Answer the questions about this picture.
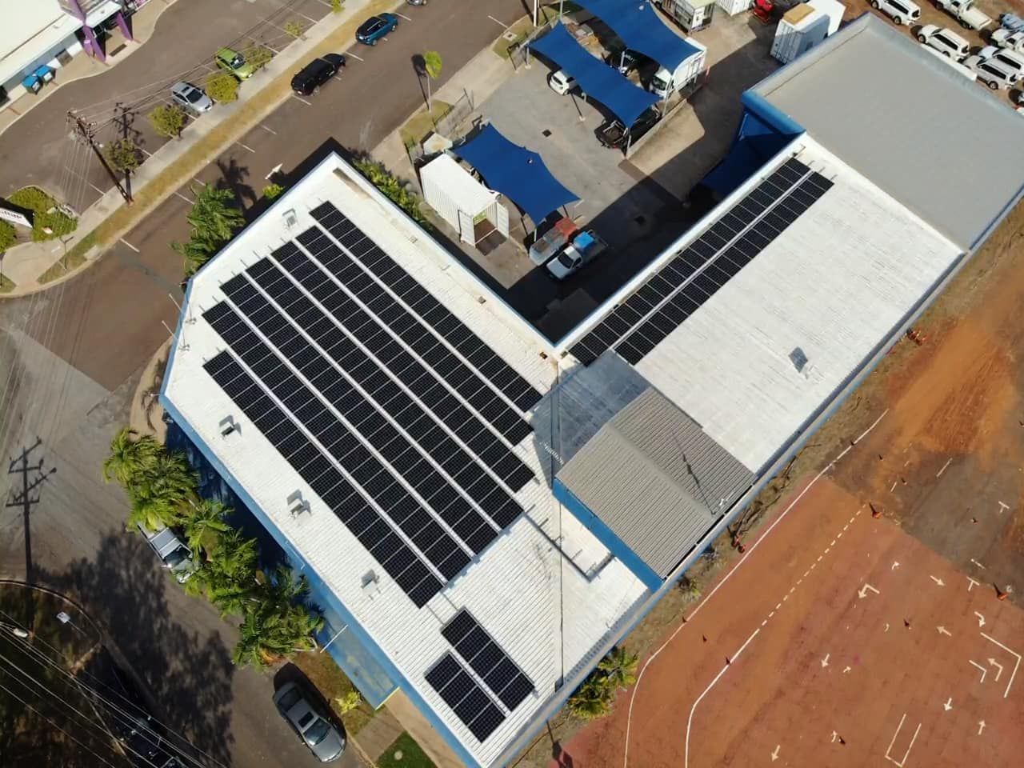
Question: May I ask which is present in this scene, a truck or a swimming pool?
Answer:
truck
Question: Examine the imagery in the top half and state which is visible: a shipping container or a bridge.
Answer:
shipping container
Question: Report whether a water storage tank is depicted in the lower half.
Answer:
No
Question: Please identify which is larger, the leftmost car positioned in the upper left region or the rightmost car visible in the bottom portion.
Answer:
the rightmost car visible in the bottom portion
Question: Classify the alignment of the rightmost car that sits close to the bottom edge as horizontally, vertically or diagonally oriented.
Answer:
diagonally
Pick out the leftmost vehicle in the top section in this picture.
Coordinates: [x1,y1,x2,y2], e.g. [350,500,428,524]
[166,77,216,117]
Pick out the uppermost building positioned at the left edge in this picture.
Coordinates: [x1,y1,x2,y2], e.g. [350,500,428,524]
[0,0,140,104]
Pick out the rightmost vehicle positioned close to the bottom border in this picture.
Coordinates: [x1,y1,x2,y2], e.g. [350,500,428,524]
[273,679,344,760]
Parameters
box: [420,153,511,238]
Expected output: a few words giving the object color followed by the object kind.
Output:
white shipping container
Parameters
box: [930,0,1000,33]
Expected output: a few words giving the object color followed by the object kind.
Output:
white truck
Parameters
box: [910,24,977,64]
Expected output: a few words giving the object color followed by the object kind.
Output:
white car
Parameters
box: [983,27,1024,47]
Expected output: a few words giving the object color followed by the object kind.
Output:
white vehicle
